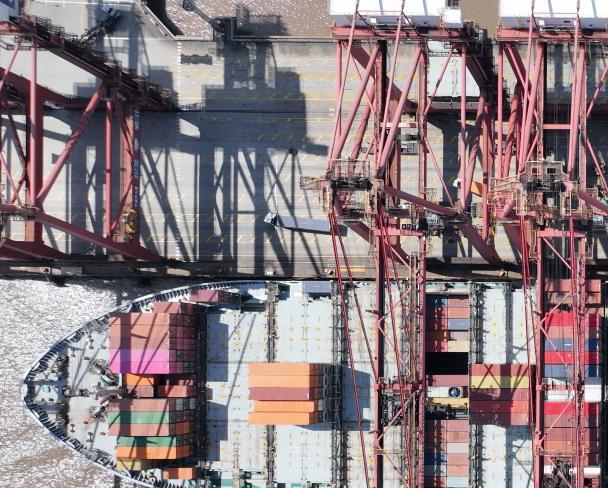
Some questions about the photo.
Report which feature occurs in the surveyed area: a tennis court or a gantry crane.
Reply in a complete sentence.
The image shows a gantry crane.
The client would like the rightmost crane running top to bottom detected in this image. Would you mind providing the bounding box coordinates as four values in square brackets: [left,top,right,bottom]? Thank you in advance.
[478,0,608,488]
